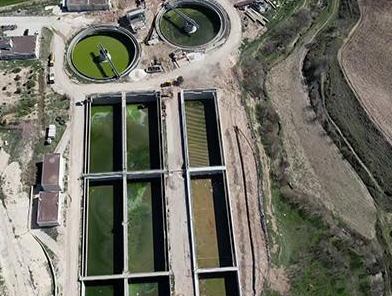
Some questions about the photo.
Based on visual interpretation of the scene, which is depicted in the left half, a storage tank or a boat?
storage tank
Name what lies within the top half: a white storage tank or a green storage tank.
green storage tank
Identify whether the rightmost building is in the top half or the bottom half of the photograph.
top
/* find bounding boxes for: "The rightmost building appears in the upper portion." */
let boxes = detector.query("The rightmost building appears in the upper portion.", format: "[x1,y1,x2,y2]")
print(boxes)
[125,10,149,35]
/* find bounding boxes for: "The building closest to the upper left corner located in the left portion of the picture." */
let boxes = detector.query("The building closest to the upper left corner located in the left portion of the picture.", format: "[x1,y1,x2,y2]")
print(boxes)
[0,34,40,62]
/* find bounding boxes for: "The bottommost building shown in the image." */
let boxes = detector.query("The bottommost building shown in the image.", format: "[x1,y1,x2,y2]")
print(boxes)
[37,192,62,228]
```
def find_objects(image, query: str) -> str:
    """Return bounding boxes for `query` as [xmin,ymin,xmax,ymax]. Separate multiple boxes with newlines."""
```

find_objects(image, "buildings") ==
[37,192,62,228]
[125,10,149,35]
[62,0,111,12]
[0,34,40,62]
[41,154,63,191]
